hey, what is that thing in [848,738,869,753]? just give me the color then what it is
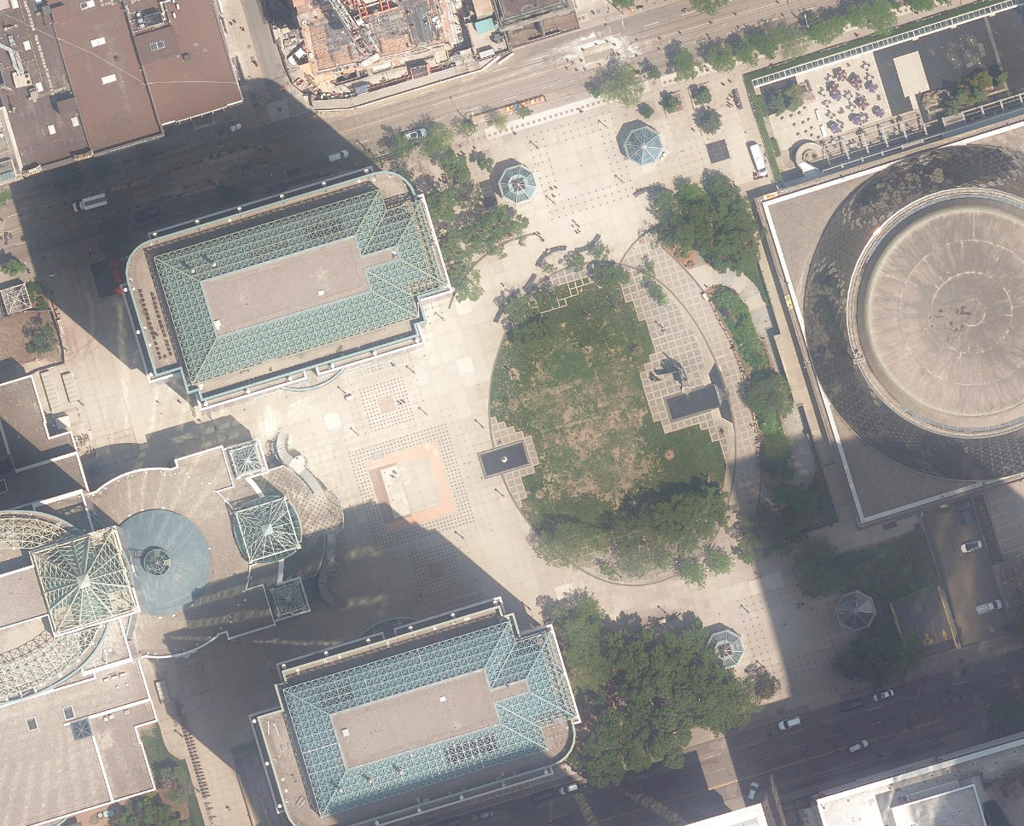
gray car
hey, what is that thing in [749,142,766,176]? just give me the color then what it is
white vehicle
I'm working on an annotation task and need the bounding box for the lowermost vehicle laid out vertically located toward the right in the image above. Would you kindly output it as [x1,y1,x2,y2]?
[747,780,759,802]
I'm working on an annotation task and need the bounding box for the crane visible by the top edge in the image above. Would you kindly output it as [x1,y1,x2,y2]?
[332,0,380,67]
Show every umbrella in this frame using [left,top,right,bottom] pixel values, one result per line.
[831,91,841,100]
[857,98,870,110]
[875,107,884,117]
[830,123,840,133]
[851,114,861,124]
[830,83,840,93]
[836,69,848,81]
[851,76,862,87]
[869,83,879,92]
